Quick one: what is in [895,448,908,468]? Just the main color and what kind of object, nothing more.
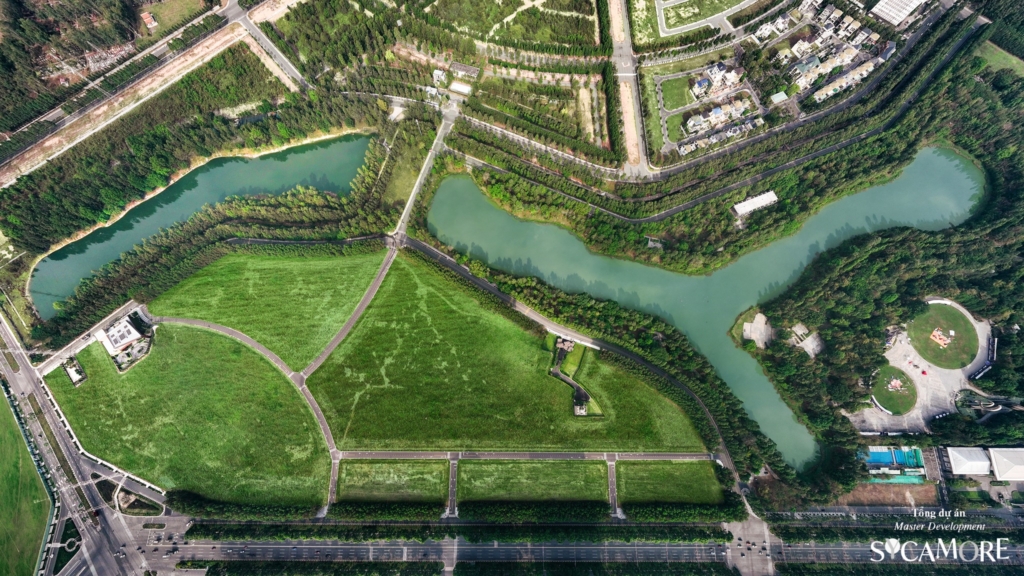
blue swimming pool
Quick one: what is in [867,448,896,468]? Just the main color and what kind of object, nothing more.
blue swimming pool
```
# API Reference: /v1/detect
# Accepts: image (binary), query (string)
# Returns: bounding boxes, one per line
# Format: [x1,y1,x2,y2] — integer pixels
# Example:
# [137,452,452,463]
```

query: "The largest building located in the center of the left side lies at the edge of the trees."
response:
[95,321,142,350]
